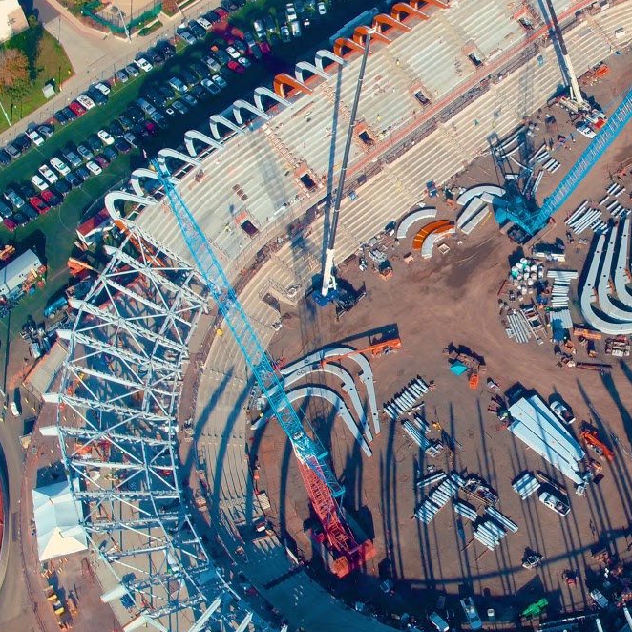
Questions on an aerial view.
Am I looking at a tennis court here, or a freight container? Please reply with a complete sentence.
There is a freight container in the scene.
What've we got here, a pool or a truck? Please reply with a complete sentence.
It is a truck that can be seen here.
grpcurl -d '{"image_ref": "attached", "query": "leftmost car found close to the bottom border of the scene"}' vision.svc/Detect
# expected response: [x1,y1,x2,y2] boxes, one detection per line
[426,608,452,632]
